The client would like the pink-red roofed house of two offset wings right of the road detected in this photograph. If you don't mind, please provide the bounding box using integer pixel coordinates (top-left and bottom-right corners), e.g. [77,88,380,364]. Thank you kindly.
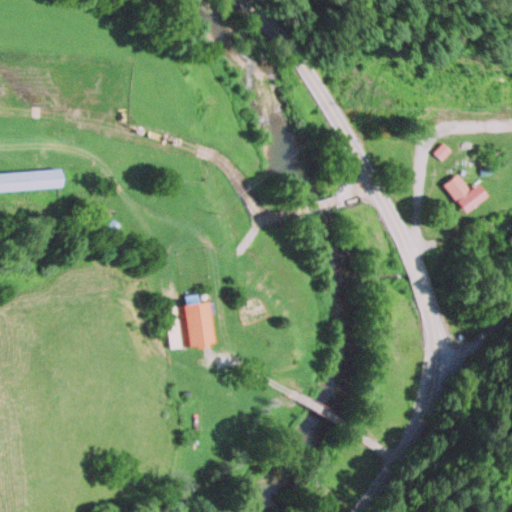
[444,174,489,214]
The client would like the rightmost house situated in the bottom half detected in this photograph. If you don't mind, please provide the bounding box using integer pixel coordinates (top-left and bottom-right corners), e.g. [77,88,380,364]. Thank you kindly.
[168,293,216,350]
